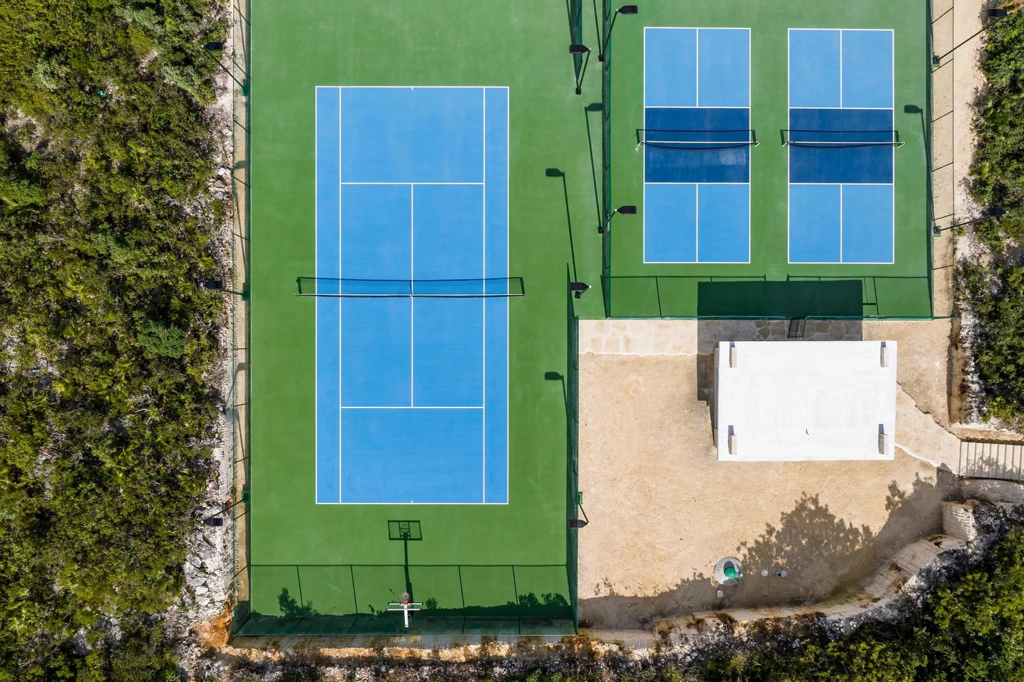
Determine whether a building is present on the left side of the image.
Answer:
No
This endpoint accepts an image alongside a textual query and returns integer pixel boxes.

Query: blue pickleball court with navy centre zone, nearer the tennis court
[644,27,751,263]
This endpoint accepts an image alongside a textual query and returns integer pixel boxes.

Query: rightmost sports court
[788,28,894,264]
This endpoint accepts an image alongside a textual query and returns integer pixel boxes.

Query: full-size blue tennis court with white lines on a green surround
[251,0,606,627]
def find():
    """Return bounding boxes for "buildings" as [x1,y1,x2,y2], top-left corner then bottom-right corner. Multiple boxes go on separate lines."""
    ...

[716,341,897,461]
